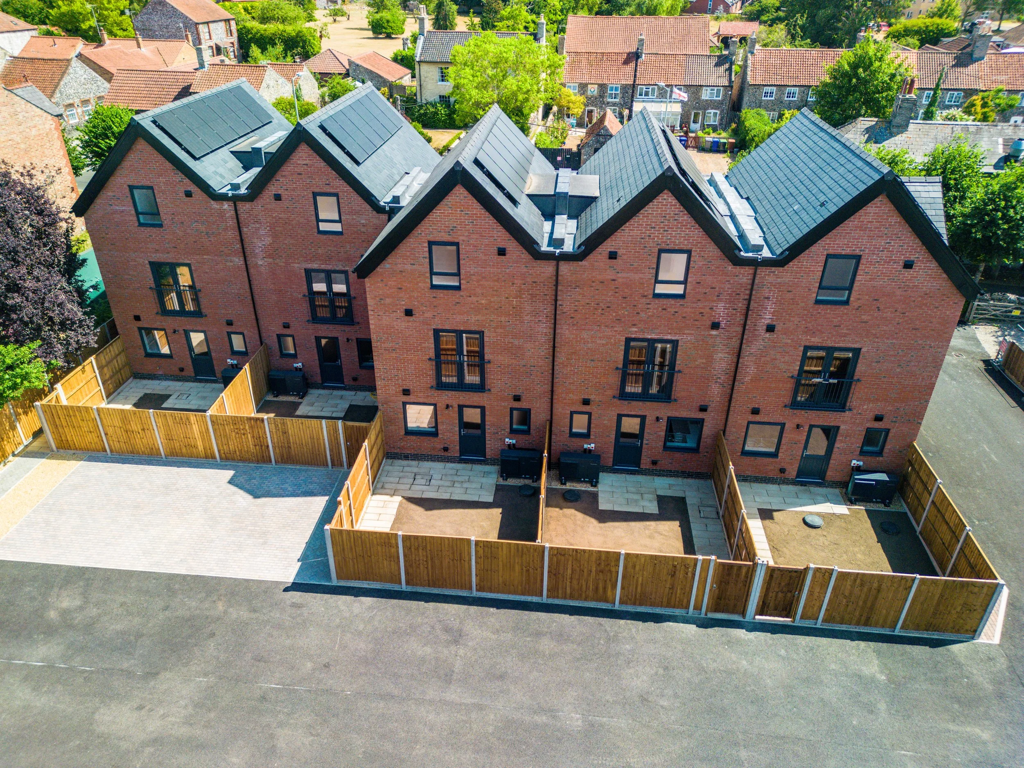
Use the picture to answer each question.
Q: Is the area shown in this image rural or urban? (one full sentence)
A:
From above, the setting appears urban.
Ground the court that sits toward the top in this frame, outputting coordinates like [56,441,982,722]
[34,254,111,351]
